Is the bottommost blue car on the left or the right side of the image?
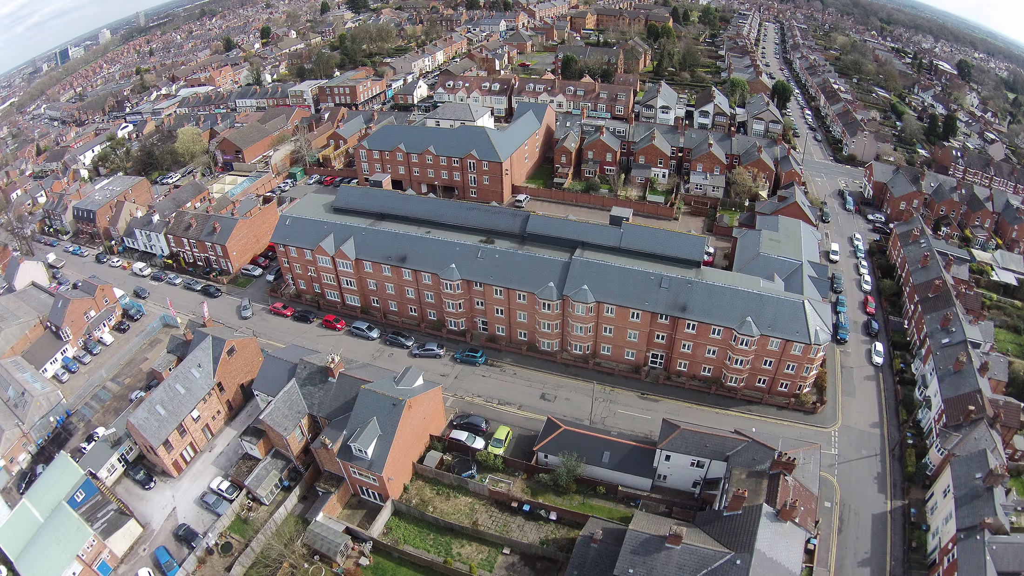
left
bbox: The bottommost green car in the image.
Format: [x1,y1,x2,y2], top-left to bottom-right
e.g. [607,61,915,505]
[489,425,512,454]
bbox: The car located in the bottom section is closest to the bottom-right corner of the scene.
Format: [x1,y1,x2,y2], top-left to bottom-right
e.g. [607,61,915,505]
[869,342,885,364]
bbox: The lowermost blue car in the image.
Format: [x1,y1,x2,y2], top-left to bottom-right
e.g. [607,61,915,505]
[147,544,182,576]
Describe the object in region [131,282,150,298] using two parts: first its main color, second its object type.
gray car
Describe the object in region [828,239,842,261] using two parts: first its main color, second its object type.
white vehicle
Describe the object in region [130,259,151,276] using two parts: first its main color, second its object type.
white vehicle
